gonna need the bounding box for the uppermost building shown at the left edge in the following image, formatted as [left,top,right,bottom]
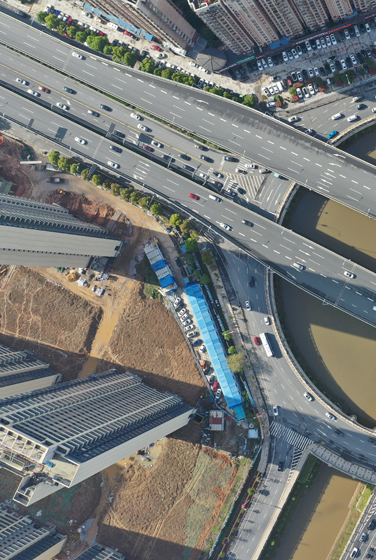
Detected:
[0,188,120,268]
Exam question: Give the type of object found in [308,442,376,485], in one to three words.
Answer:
bridge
